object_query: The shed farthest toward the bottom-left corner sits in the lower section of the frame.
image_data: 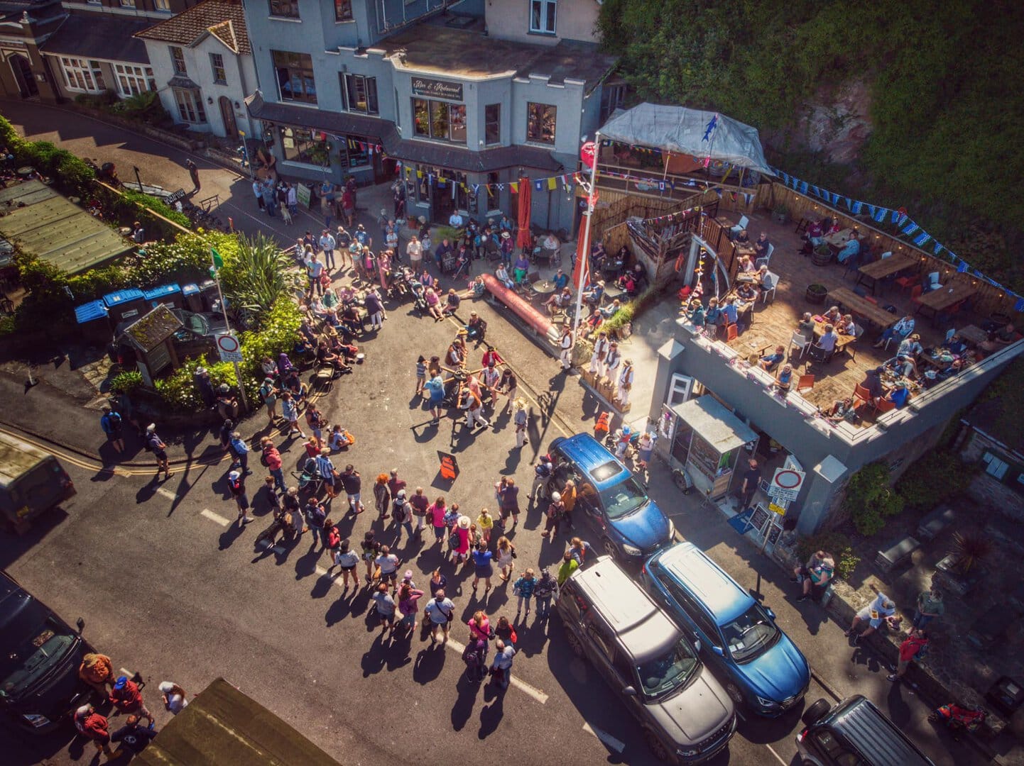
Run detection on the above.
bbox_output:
[137,679,339,766]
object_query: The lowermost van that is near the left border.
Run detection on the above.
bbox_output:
[0,612,98,766]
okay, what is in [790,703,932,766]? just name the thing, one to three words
car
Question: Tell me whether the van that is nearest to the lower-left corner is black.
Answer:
Yes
